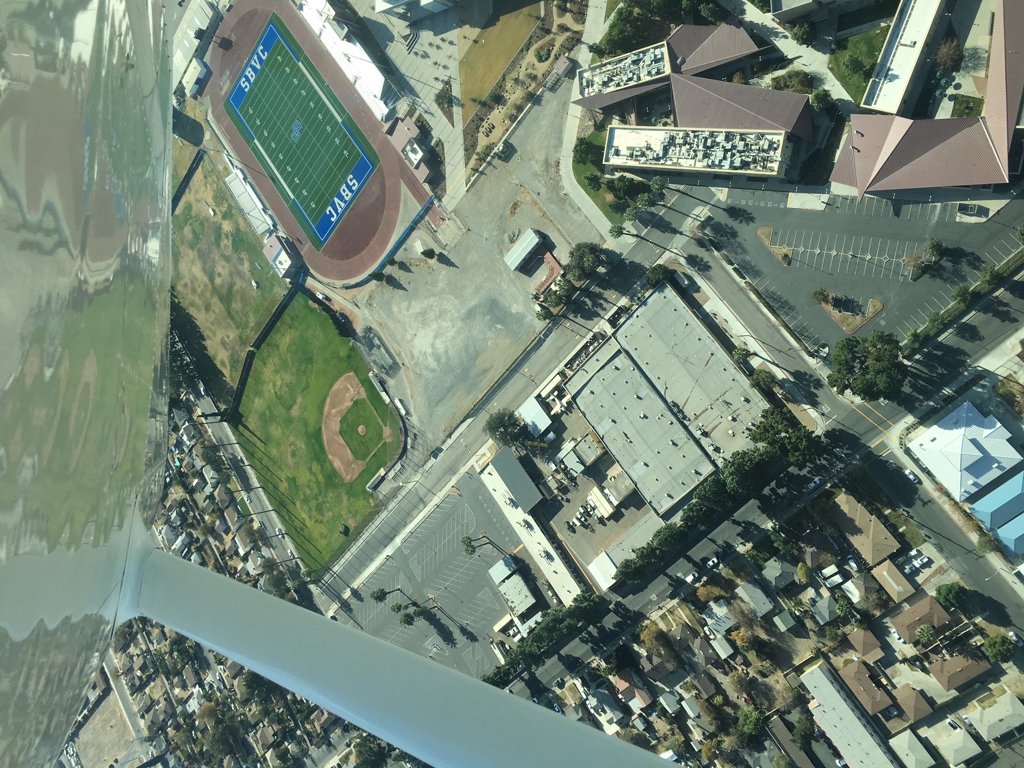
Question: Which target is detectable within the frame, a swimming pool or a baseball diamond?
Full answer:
There is a baseball diamond in the scene.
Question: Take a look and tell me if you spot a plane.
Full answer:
Yes, there's a plane down there.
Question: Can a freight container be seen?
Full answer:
Yes, I can see a freight container in this picture.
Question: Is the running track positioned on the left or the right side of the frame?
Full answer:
You can find the running track on the left side of the picture.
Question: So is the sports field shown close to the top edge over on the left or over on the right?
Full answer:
It is on the left.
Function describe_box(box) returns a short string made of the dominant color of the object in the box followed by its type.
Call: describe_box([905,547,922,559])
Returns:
white vehicle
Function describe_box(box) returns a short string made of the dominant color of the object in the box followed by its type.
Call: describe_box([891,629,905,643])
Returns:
white car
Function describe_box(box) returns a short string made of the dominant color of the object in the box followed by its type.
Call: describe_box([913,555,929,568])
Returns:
white vehicle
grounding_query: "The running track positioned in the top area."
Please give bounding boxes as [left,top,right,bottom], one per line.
[208,0,448,277]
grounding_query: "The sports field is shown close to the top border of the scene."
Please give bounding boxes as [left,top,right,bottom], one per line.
[223,12,381,252]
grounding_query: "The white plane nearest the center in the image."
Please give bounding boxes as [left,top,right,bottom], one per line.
[546,393,568,414]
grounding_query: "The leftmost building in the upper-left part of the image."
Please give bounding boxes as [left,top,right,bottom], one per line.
[182,57,208,94]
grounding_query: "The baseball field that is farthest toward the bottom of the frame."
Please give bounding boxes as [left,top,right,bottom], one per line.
[218,295,402,577]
